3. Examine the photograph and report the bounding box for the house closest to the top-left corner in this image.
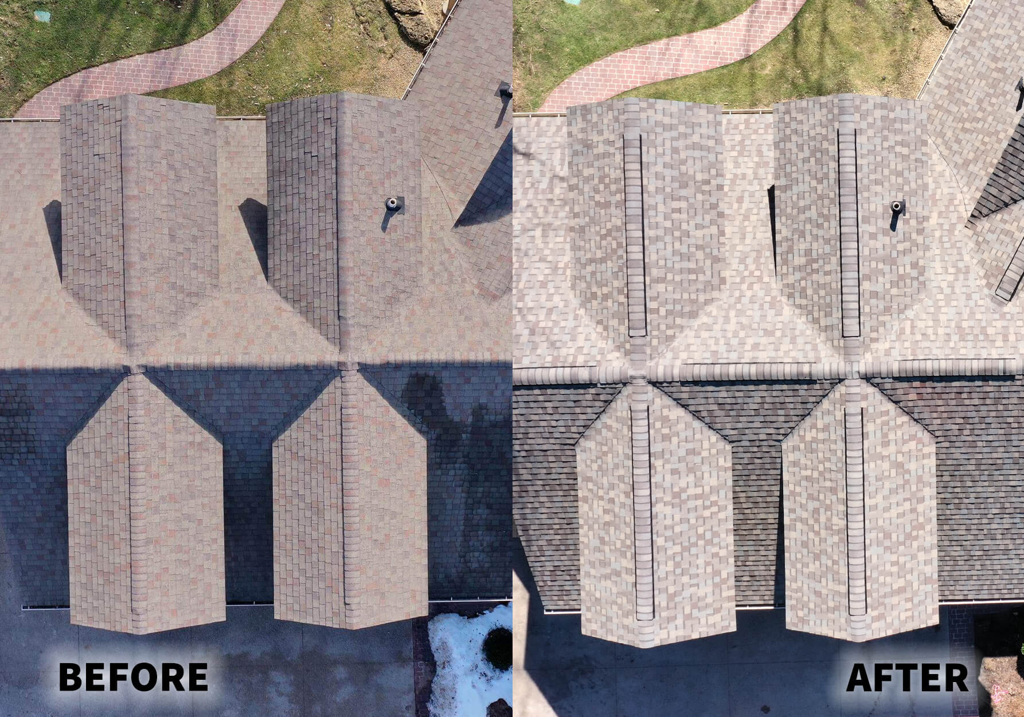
[0,0,516,635]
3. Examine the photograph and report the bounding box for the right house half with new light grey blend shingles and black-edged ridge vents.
[512,0,1024,650]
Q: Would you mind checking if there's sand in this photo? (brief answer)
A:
No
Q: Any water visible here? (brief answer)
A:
No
